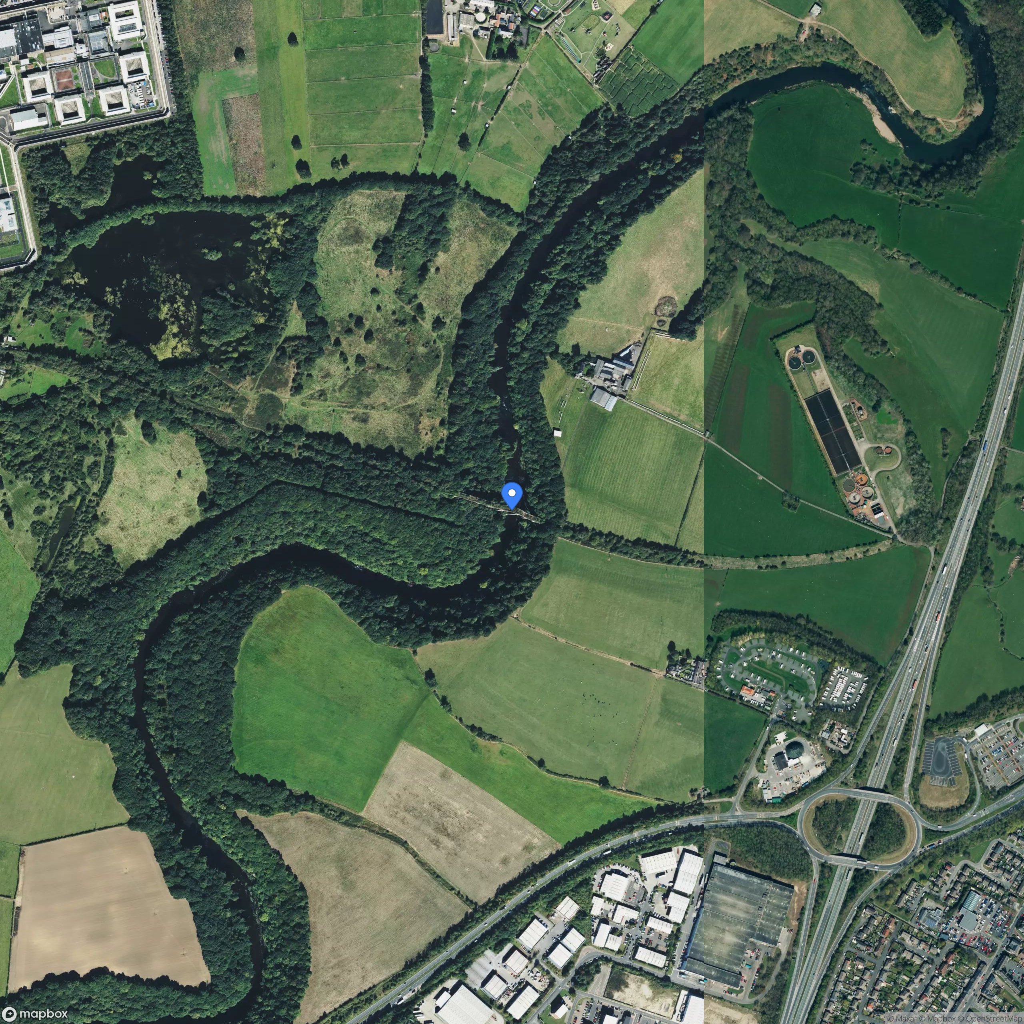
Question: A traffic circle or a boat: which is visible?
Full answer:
This aerial view contains a traffic circle.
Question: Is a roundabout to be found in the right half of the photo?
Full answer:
Yes, in the right half of the photo there is a roundabout.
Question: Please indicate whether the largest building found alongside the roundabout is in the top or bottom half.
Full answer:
The largest building found alongside the roundabout sits in the bottom half of the picture.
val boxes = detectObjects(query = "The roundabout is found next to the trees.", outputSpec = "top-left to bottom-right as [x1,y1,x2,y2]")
[798,788,922,870]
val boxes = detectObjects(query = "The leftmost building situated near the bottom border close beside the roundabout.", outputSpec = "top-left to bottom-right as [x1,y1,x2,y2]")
[690,864,794,974]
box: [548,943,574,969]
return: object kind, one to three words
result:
shed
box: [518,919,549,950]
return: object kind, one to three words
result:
shed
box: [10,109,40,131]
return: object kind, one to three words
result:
building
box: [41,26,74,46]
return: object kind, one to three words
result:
building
